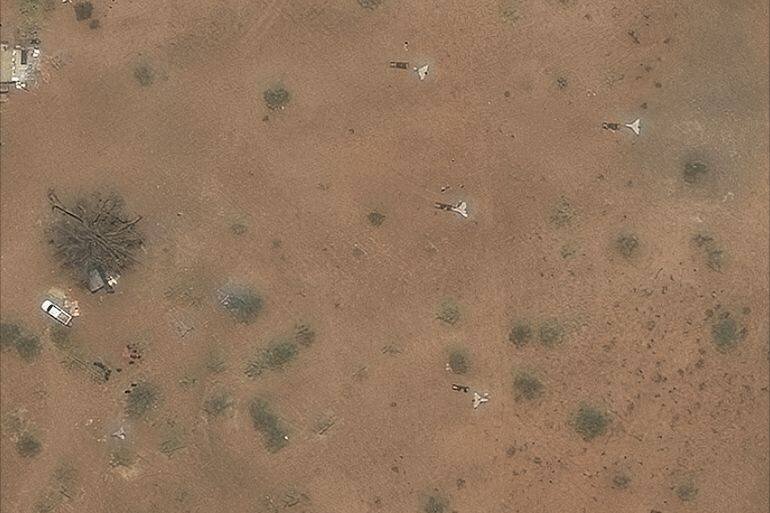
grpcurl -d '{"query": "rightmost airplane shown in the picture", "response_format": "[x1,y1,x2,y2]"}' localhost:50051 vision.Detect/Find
[626,119,642,135]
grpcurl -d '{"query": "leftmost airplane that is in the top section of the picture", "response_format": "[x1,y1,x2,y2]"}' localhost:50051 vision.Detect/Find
[415,65,431,80]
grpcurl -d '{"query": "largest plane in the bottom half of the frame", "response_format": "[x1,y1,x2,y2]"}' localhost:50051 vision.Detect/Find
[472,393,489,408]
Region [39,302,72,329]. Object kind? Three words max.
truck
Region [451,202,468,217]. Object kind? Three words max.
airplane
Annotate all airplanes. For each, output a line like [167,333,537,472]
[112,427,125,439]
[472,393,489,408]
[626,119,642,135]
[451,202,468,217]
[415,65,431,80]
